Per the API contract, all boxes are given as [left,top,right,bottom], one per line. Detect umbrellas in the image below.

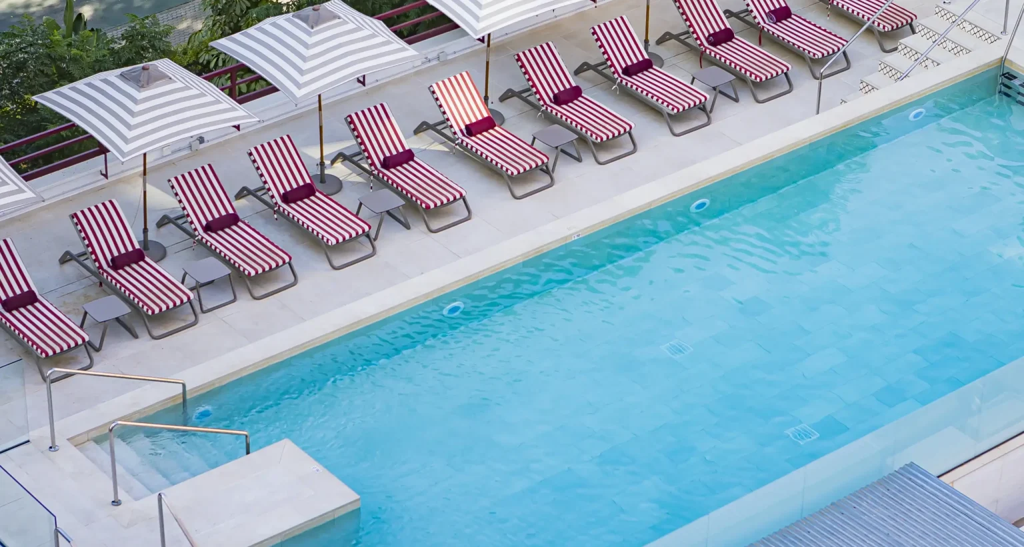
[422,0,577,128]
[35,61,256,261]
[641,0,668,67]
[0,154,47,207]
[212,0,422,193]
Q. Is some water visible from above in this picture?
Yes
